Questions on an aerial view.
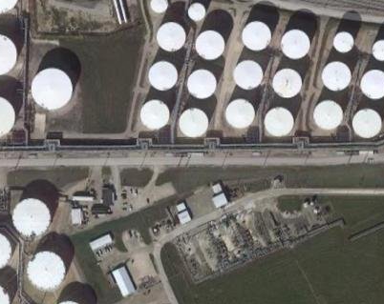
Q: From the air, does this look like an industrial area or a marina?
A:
industrial area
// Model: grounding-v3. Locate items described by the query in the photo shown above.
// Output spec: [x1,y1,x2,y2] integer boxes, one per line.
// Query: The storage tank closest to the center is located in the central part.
[179,108,210,138]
